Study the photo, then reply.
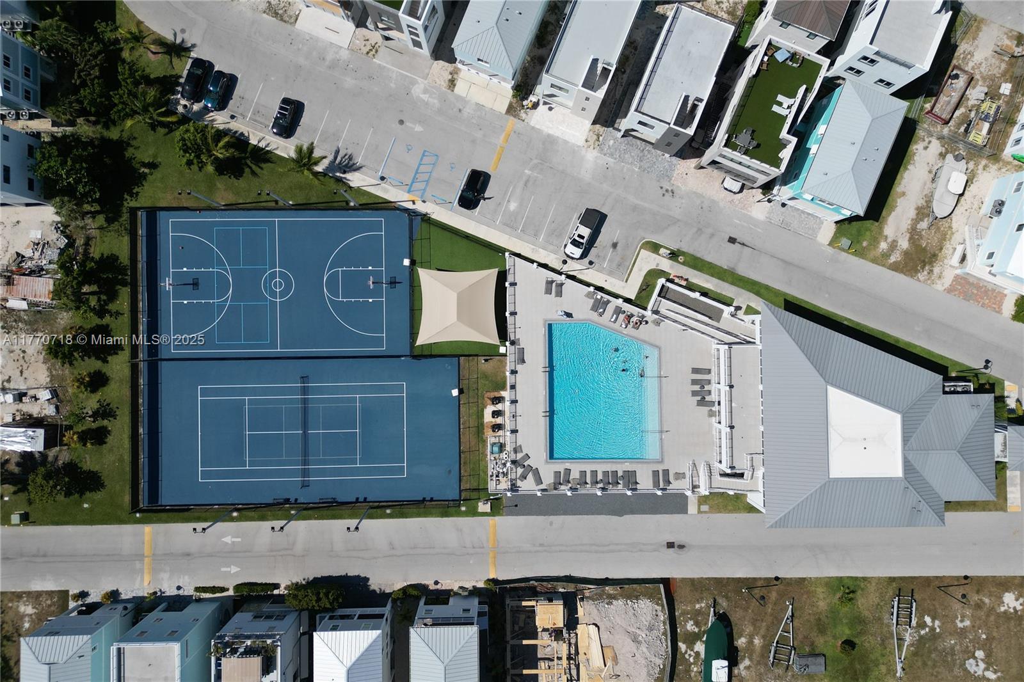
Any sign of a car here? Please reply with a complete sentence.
Yes, there's a car down there.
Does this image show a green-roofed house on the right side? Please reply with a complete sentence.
Yes, you'll find a green-roofed house on the right side.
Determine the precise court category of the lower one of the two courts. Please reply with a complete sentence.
The lower one of the two courts is a tennis court.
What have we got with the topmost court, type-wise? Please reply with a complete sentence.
The topmost court is a basketball court.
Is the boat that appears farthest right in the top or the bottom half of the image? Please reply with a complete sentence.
It is in the top half that the boat that appears farthest right appears.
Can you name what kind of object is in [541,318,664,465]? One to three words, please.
swimming pool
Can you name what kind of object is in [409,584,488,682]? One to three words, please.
house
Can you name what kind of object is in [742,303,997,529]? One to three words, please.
building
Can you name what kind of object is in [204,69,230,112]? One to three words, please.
car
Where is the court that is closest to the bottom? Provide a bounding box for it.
[142,357,460,507]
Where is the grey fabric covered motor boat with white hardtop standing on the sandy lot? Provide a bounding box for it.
[938,150,972,215]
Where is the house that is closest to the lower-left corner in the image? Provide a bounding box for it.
[20,598,140,682]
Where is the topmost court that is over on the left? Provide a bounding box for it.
[142,210,421,359]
